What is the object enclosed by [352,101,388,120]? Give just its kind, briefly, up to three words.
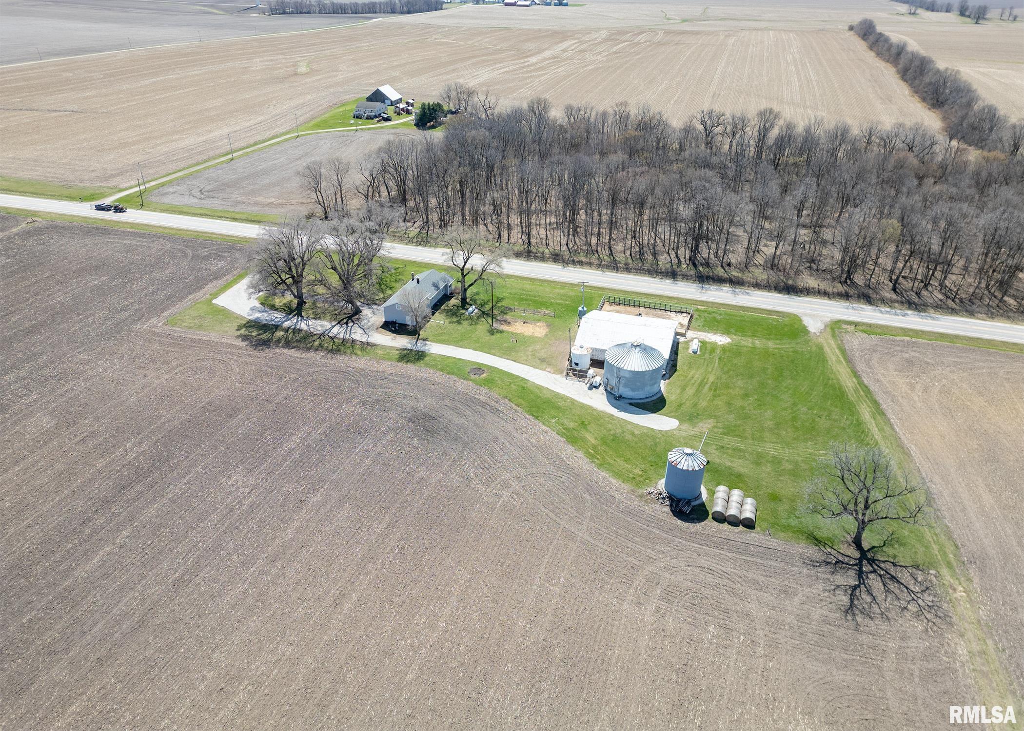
house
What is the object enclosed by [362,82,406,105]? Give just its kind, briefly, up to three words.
barn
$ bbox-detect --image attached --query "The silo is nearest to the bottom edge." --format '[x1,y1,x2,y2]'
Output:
[661,447,710,500]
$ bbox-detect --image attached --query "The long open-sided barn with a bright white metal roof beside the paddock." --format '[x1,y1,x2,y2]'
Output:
[575,310,678,372]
